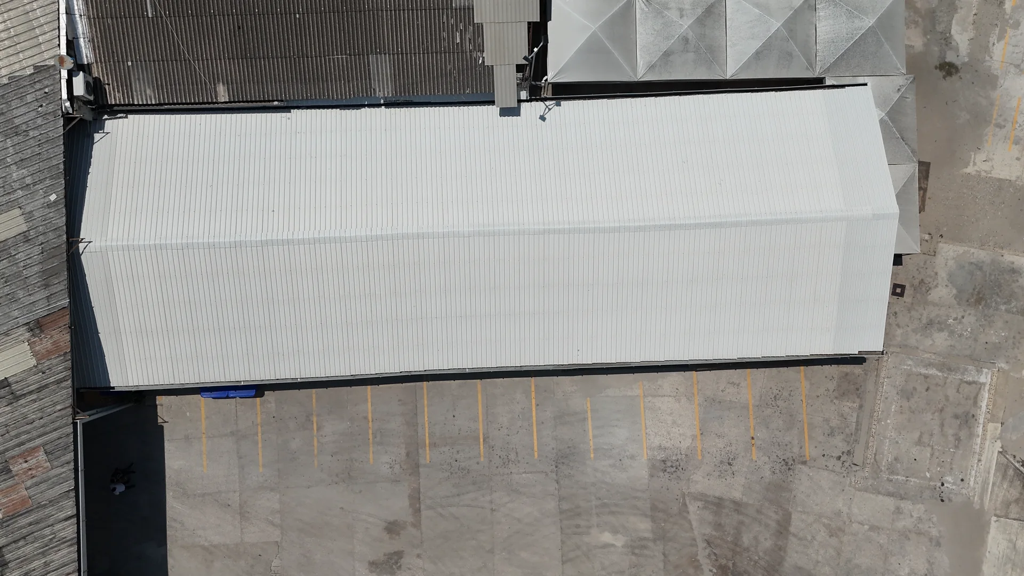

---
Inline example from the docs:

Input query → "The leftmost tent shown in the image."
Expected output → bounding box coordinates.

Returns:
[545,0,636,97]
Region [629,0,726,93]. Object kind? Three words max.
tent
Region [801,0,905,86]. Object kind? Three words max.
tent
